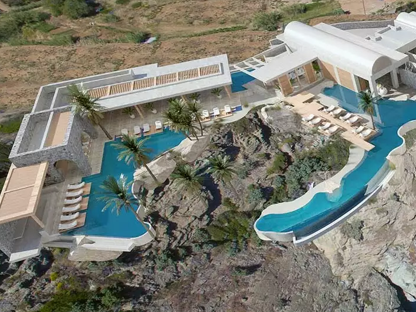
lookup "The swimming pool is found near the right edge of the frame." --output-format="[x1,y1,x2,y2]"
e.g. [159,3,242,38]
[253,85,416,245]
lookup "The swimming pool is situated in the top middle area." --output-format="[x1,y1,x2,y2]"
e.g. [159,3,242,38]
[230,68,253,93]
